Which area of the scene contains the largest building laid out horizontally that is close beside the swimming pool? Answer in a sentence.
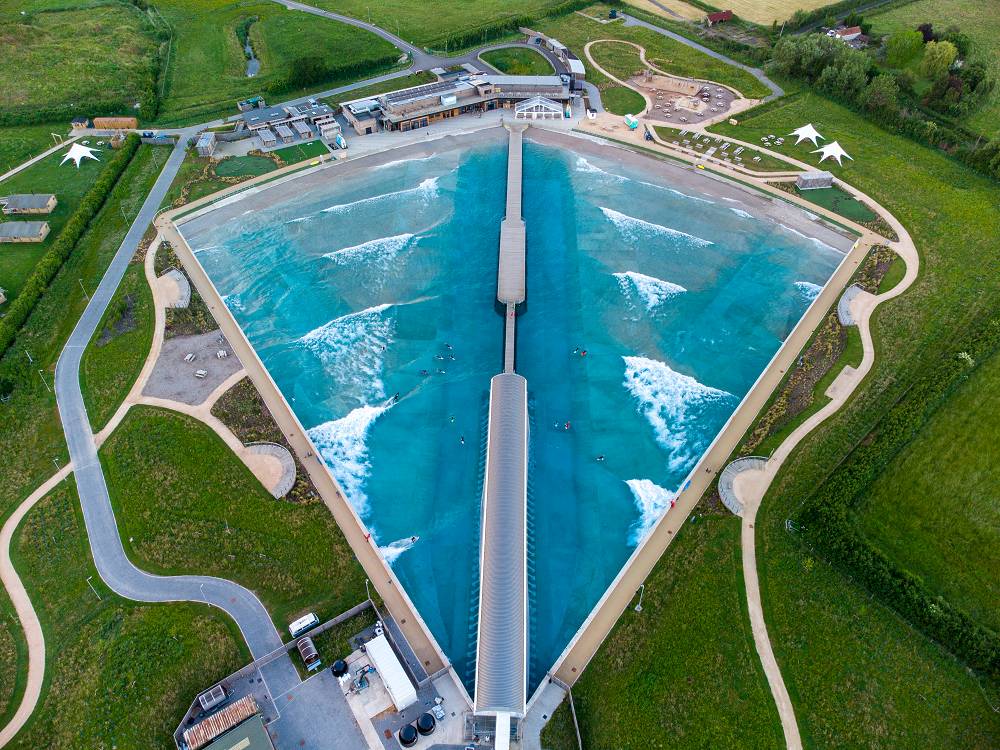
Look in the top portion of the view to spot the largest building laid out horizontally that is close beside the swimming pool.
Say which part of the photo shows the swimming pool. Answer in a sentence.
The swimming pool sits in the center section of the image.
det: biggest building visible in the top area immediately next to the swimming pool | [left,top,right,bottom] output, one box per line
[339,63,571,135]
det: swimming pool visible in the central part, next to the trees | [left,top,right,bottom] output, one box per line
[170,125,862,714]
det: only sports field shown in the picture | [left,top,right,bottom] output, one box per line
[271,140,329,166]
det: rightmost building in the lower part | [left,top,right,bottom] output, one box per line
[468,372,533,719]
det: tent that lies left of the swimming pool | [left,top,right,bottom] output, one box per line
[60,141,103,168]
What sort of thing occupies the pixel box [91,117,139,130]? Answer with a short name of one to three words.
building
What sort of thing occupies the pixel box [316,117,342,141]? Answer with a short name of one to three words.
building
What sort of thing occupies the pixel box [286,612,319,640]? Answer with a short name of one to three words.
camper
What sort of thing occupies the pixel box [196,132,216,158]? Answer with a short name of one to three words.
shed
